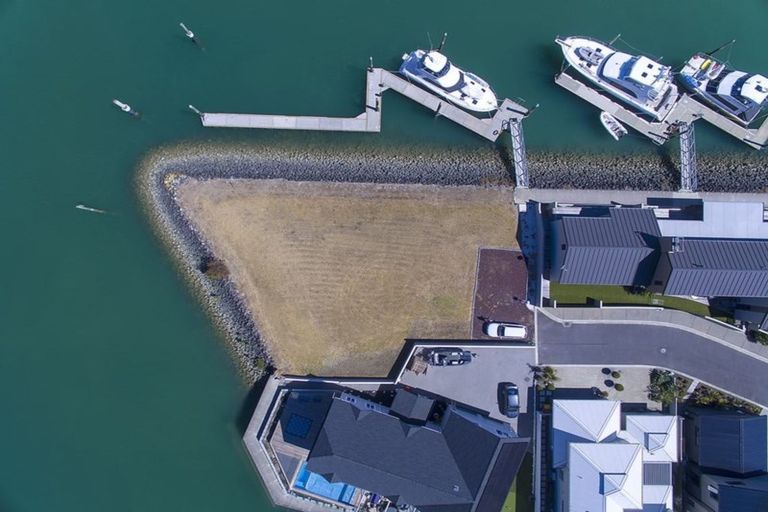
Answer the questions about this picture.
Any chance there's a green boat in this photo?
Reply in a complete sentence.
No, the scene contains no green boat.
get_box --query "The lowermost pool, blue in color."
[290,466,371,512]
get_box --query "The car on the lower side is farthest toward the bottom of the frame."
[502,382,521,418]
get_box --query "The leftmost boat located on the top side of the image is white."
[399,32,502,113]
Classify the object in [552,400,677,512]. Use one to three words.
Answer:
house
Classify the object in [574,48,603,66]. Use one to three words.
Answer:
boat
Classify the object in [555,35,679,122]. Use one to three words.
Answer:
boat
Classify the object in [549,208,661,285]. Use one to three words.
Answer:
house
